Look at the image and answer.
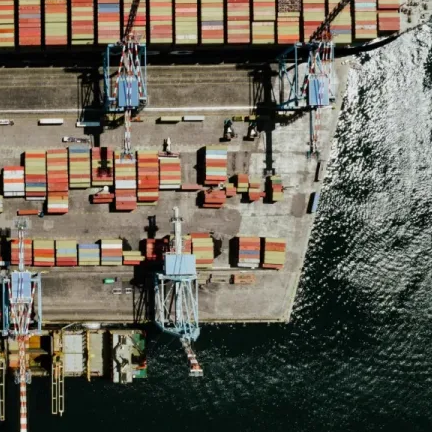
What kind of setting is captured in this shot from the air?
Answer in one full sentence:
This image shows a port.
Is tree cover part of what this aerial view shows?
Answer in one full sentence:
No, there's no tree cover in this view.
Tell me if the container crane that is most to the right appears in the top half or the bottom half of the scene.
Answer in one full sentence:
The container crane that is most to the right is in the top half of the image.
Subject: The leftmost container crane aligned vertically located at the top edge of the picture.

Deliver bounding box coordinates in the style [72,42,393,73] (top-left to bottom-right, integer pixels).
[104,0,147,155]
